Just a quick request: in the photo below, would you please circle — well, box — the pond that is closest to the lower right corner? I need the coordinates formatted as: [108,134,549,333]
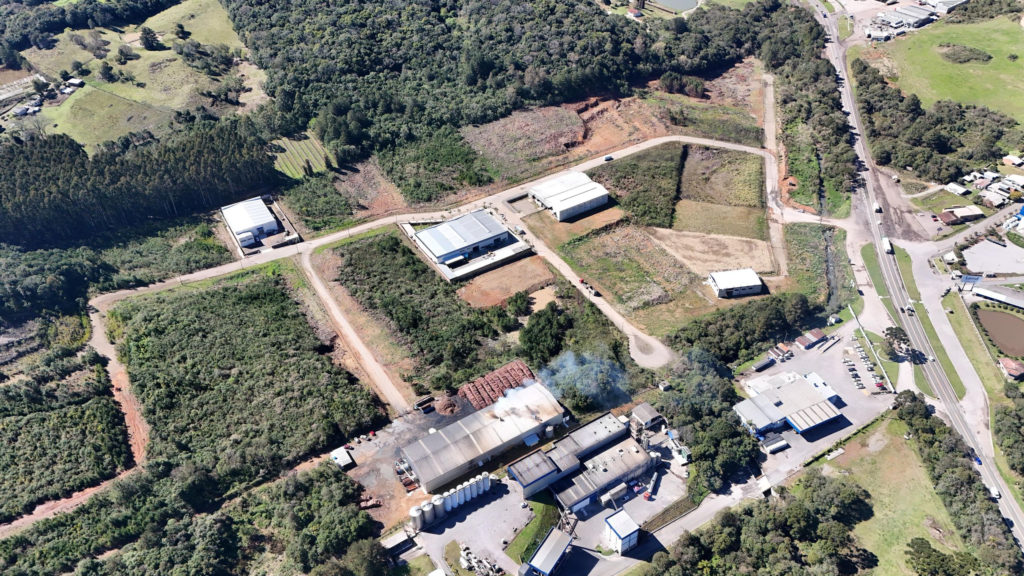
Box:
[978,310,1024,356]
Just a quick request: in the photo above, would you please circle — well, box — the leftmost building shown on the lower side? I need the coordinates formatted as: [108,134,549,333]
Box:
[330,445,353,467]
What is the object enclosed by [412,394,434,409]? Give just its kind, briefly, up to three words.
vehicle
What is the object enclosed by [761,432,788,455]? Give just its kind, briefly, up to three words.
building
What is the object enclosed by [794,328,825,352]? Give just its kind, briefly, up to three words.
shed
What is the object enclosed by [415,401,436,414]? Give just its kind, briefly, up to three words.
vehicle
